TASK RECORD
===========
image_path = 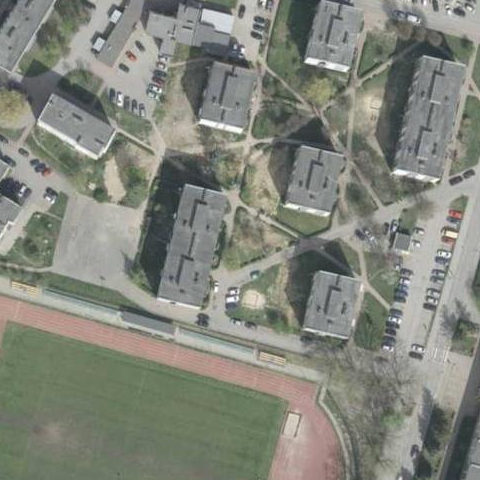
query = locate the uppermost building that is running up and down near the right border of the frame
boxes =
[392,55,466,182]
